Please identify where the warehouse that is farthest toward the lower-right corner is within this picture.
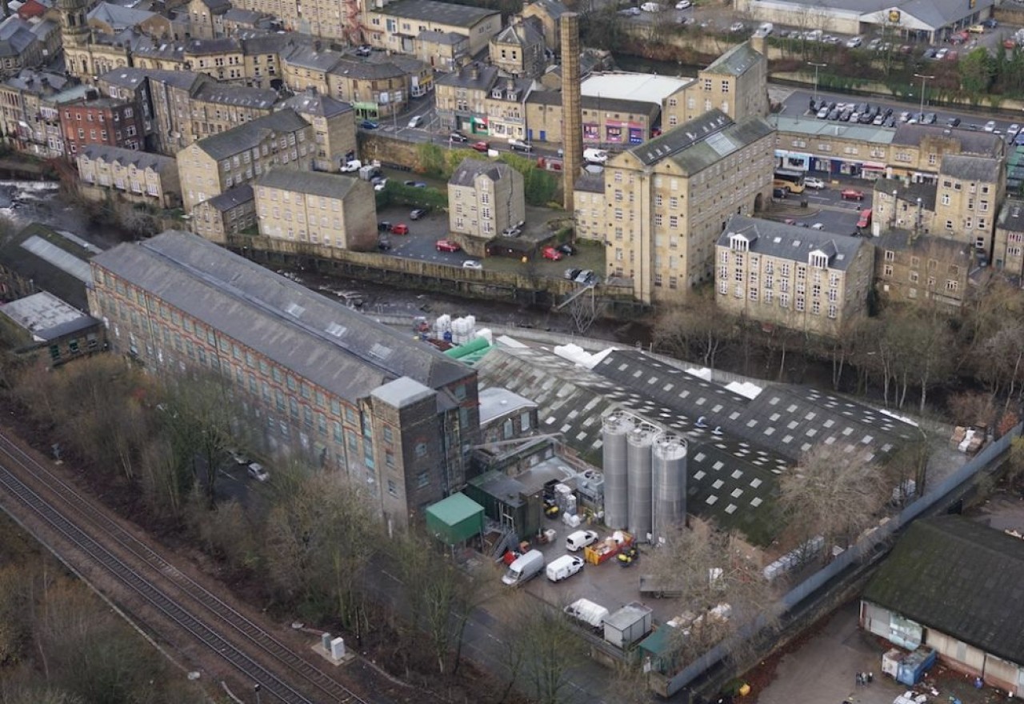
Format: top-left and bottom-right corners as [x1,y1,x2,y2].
[857,504,1024,700]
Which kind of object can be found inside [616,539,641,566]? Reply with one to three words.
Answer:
work vehicle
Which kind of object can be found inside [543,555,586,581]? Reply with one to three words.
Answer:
vehicle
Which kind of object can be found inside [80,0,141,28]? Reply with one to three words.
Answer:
house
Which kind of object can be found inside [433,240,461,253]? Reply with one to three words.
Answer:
vehicle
